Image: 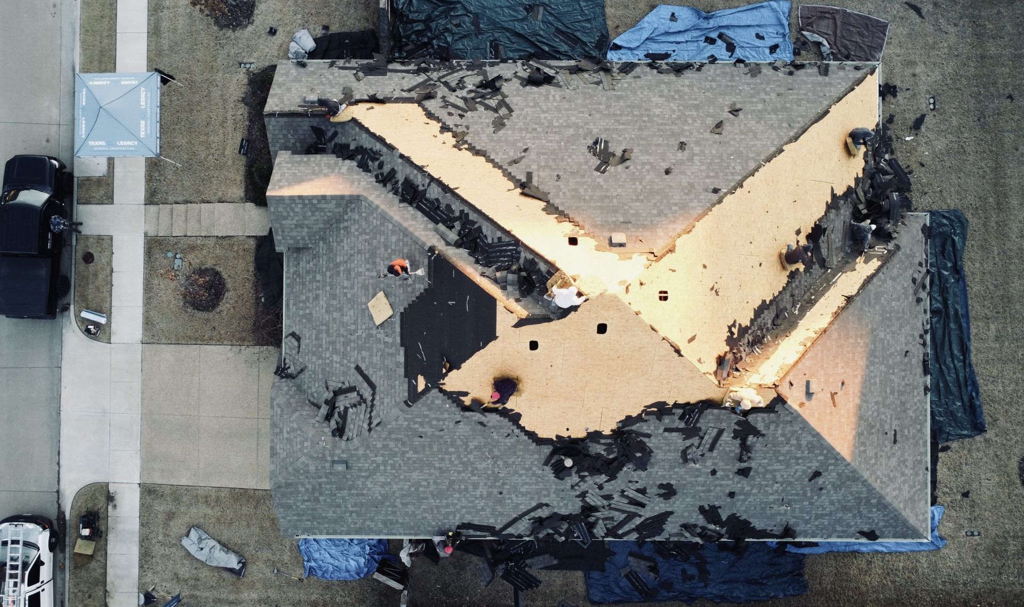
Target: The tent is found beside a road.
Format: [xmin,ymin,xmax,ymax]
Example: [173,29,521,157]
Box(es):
[75,69,186,168]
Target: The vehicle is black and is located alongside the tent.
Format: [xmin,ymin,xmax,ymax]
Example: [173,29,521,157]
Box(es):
[0,152,77,319]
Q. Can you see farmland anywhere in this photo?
No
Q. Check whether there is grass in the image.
Yes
